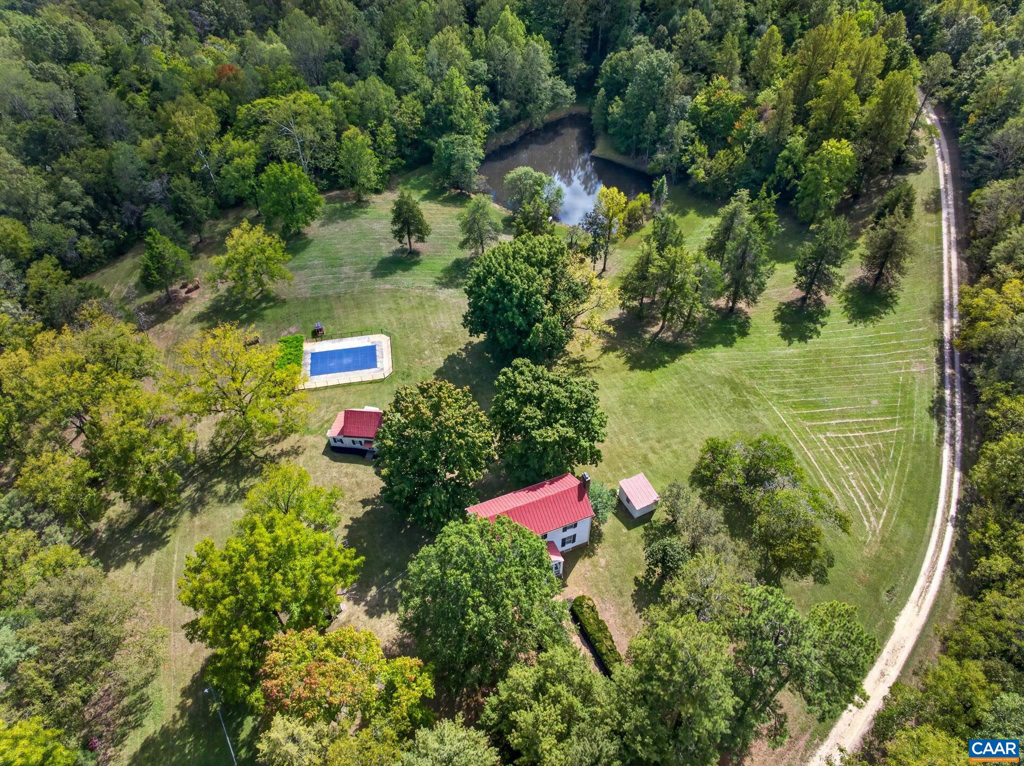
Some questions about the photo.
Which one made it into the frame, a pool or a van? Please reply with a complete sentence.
I can see a pool in this picture.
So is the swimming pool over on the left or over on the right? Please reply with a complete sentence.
The swimming pool sits on the left side.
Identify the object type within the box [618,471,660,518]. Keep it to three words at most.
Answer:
shed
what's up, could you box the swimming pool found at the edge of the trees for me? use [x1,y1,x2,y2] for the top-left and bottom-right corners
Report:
[296,334,393,390]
